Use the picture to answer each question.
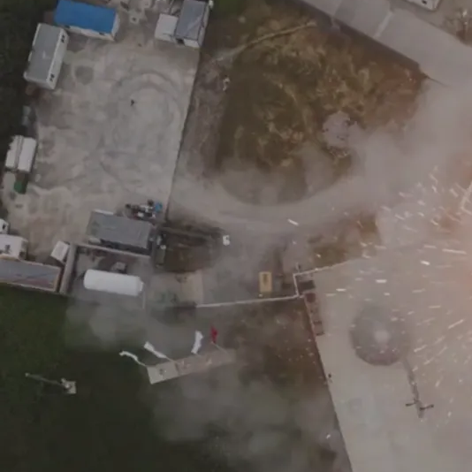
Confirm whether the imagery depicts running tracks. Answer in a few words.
No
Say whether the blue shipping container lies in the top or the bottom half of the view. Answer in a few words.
top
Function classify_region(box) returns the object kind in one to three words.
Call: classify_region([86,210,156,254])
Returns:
shed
